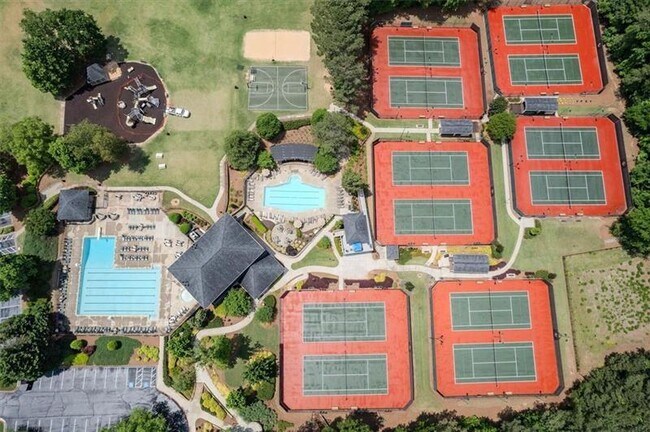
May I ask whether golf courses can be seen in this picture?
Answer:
No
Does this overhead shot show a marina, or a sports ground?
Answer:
sports ground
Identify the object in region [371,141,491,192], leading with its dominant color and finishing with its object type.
red tennis court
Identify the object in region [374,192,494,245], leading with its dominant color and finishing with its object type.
red tennis court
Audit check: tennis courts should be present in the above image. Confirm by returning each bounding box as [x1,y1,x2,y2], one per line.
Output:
[368,25,481,72]
[430,335,560,396]
[508,165,628,216]
[428,279,554,337]
[488,48,603,96]
[369,70,484,119]
[505,116,621,165]
[374,192,494,245]
[484,4,596,49]
[371,141,491,192]
[281,290,408,349]
[281,347,411,410]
